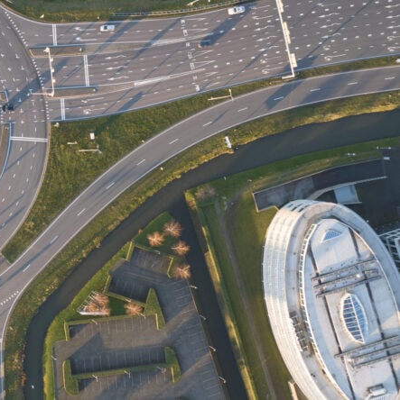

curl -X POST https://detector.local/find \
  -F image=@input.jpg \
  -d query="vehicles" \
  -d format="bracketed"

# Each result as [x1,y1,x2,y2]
[1,104,16,111]
[199,39,214,46]
[101,24,116,31]
[230,5,247,13]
